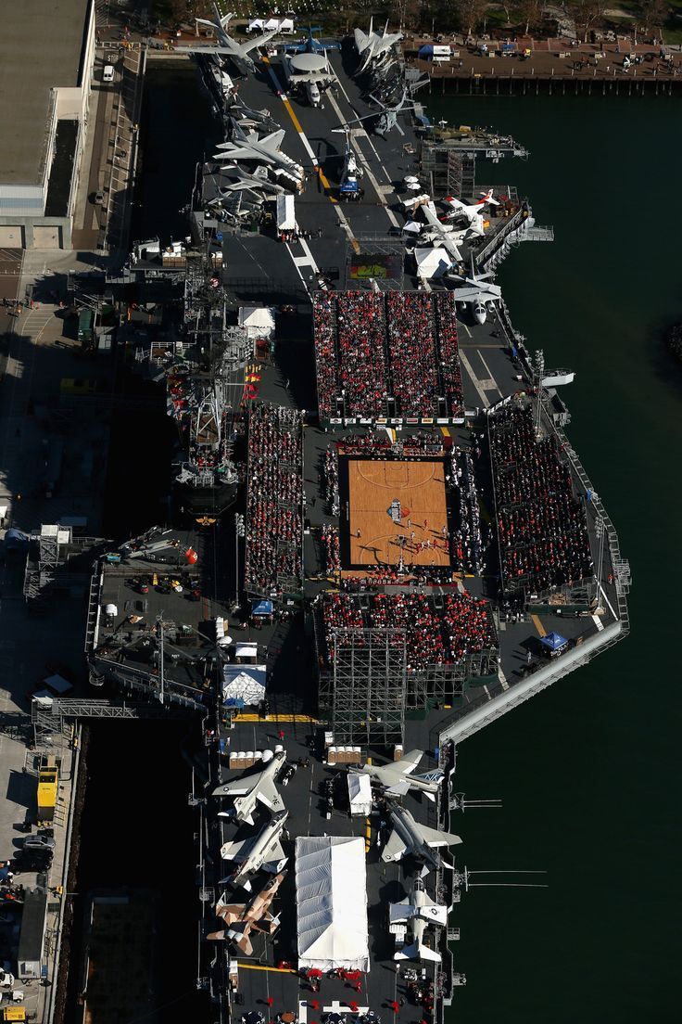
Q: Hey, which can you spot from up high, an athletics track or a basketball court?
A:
basketball court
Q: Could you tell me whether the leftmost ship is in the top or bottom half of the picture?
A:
bottom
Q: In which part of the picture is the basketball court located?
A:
center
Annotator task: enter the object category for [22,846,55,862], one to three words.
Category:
car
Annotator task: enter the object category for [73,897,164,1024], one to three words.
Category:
ship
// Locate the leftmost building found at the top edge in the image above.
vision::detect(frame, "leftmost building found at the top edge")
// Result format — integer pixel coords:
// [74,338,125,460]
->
[0,0,101,252]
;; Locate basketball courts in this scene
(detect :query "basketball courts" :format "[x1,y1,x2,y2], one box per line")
[338,455,463,572]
